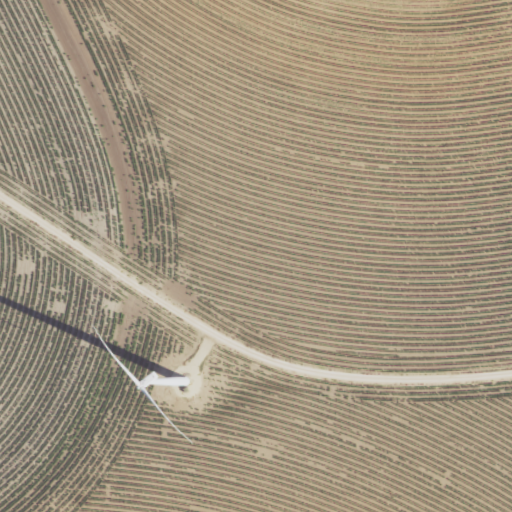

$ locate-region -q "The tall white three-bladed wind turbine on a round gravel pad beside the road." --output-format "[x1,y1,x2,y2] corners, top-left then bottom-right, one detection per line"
[92,325,192,442]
